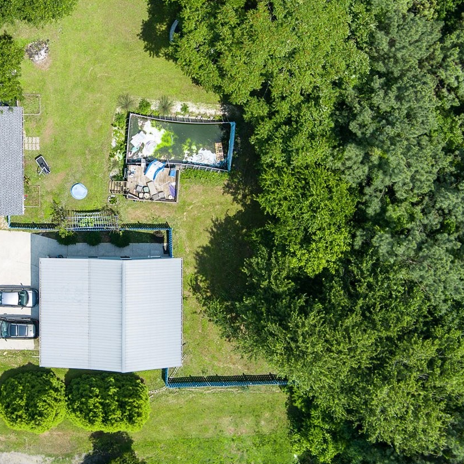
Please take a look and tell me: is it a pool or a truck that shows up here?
pool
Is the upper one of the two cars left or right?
left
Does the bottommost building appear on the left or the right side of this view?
left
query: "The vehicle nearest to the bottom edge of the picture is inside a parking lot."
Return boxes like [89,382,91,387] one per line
[0,316,37,341]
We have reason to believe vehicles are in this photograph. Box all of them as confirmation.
[0,316,37,341]
[0,287,37,309]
